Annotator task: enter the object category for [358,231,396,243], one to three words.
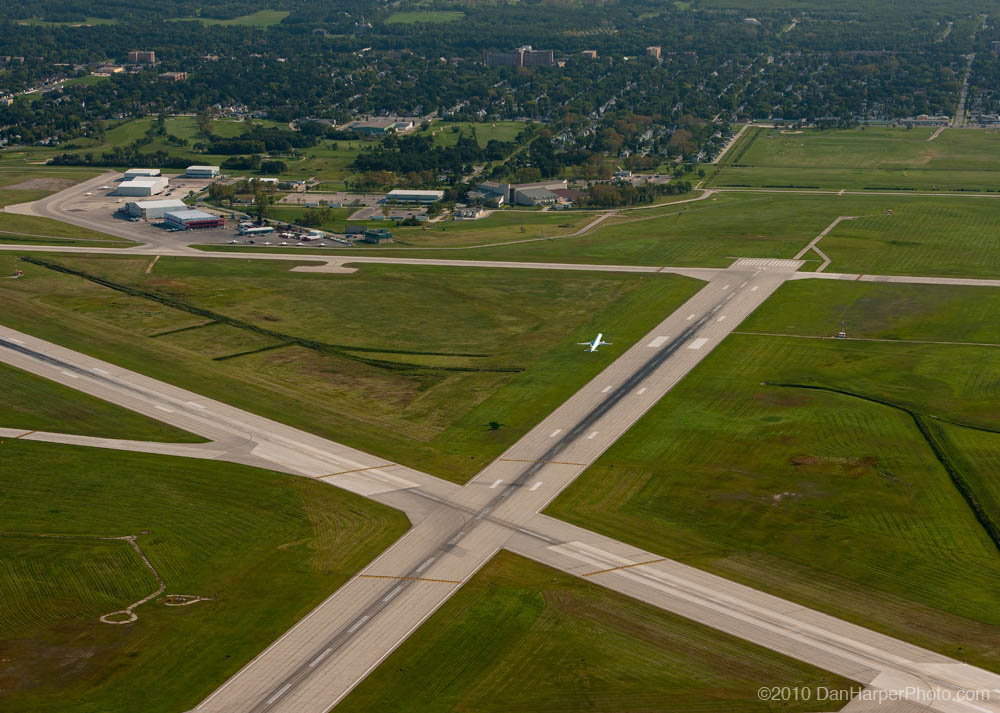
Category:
building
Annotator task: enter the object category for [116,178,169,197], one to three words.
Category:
hangar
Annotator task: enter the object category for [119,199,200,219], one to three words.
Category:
hangar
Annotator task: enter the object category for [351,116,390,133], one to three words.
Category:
building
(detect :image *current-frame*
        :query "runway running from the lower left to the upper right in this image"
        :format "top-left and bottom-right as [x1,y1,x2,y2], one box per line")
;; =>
[187,257,809,713]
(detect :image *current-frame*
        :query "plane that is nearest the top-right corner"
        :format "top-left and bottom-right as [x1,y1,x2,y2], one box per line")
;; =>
[576,333,611,350]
